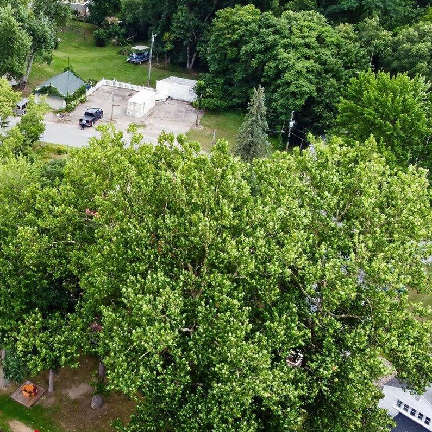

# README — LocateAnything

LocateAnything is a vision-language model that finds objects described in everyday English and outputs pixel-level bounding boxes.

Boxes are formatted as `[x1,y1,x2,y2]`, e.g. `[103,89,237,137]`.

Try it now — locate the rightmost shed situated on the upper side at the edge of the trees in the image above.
[156,70,213,102]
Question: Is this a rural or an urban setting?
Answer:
rural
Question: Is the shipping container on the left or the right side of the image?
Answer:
left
